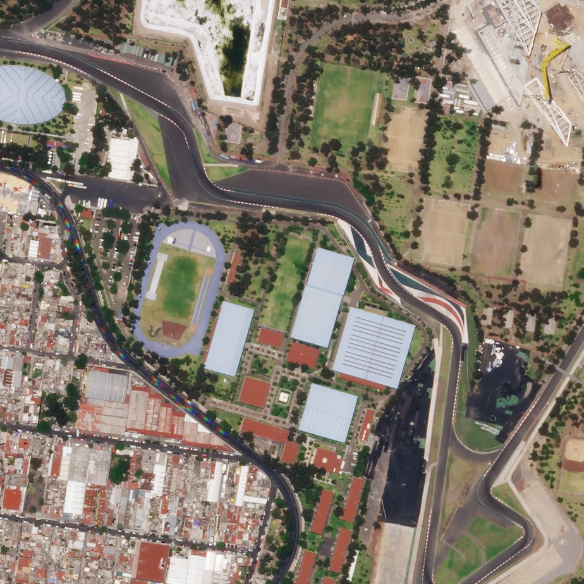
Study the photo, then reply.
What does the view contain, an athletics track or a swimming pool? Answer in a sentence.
There is an athletics track in the scene.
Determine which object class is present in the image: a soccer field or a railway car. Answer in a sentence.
There is a soccer field in the scene.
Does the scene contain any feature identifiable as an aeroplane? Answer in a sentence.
No, I find no aeroplane anywhere in the image.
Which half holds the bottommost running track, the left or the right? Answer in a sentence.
The bottommost running track appears in the left half of the scene.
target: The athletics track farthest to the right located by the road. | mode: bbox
[134,220,225,359]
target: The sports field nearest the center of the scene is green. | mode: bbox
[259,233,312,332]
